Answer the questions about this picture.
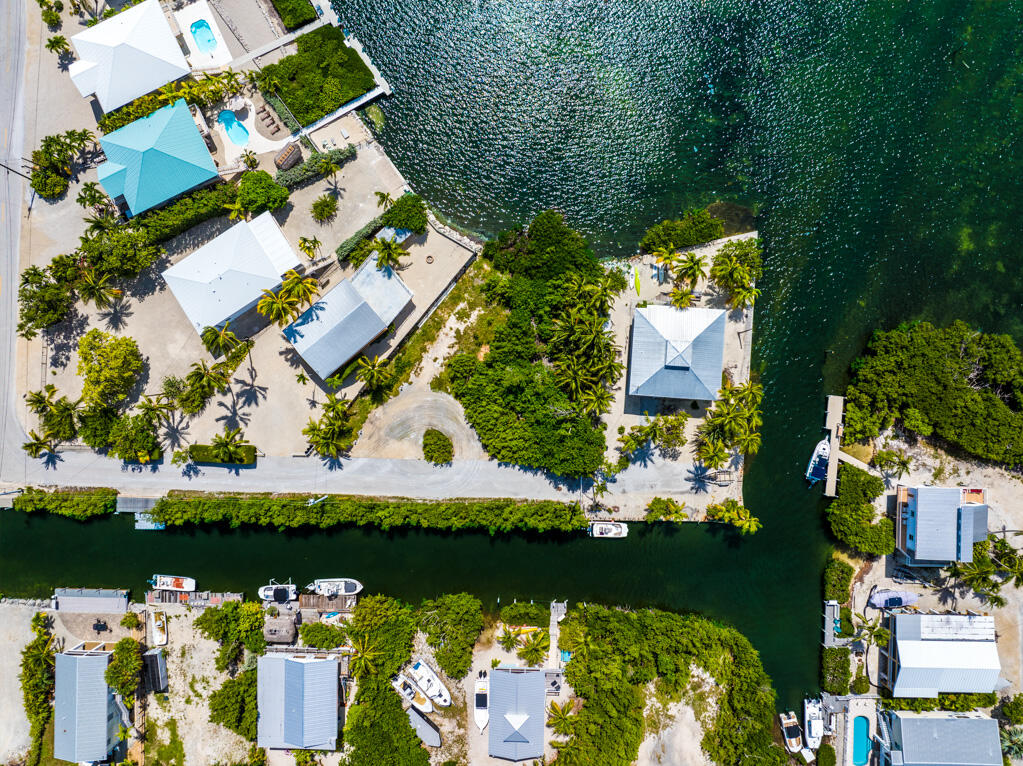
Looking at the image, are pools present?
Yes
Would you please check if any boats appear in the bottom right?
Yes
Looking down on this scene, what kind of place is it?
residential area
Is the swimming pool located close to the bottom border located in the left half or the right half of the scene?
right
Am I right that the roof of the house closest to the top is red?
No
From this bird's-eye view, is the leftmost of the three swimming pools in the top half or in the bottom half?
top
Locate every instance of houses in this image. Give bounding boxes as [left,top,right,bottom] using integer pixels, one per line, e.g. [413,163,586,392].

[97,98,247,216]
[628,309,727,400]
[255,648,353,750]
[282,251,414,380]
[866,608,1002,698]
[886,483,990,568]
[161,213,305,336]
[55,632,137,762]
[871,705,1004,766]
[69,0,216,120]
[489,660,561,762]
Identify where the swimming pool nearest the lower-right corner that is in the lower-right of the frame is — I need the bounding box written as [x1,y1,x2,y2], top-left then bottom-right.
[847,700,878,766]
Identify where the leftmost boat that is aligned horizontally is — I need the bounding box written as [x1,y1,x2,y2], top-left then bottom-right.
[148,573,196,590]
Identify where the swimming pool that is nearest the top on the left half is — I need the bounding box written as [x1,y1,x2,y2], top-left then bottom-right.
[171,0,233,66]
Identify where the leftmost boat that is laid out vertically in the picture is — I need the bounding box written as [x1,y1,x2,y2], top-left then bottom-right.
[148,611,165,647]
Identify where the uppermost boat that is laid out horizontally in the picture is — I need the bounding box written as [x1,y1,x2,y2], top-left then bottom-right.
[583,521,628,538]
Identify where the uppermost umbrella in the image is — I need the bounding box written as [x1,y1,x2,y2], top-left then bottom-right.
[230,97,247,114]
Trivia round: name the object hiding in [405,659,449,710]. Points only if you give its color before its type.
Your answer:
white boat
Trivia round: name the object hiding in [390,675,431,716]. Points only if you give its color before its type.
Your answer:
white boat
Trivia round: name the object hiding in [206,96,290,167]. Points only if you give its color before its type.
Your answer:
white swimming pool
